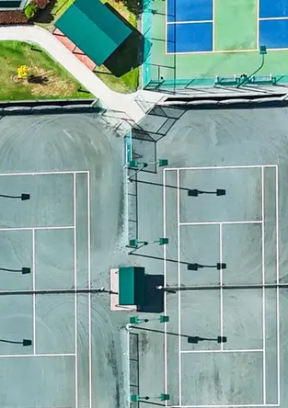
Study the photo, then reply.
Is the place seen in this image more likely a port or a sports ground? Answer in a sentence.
This looks like a sports ground.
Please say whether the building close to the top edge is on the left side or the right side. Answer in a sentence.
The building close to the top edge appears in the left half of the scene.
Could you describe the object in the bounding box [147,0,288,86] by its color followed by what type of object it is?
green sports court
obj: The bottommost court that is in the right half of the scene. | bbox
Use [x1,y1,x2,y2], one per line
[128,101,288,408]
